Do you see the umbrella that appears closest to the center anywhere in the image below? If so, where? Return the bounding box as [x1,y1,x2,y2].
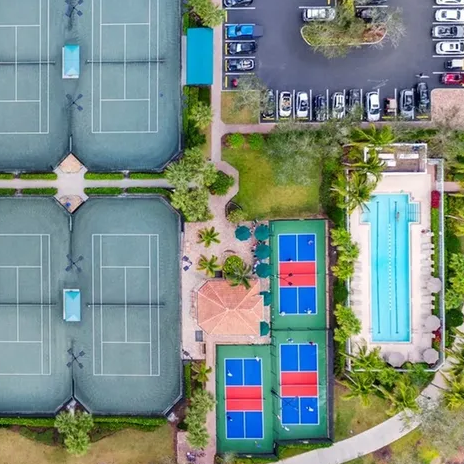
[235,225,251,241]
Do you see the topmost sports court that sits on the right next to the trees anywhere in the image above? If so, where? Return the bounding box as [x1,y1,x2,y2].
[270,221,327,330]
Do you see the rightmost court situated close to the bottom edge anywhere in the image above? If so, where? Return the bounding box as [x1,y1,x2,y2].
[270,330,329,443]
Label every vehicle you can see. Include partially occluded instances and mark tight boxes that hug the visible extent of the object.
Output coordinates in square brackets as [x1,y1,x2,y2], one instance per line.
[440,71,464,85]
[227,58,256,71]
[296,90,310,119]
[228,24,264,37]
[224,0,252,6]
[438,41,464,54]
[437,0,464,5]
[415,84,432,112]
[279,91,292,117]
[262,91,277,119]
[382,100,401,109]
[433,24,464,38]
[304,7,334,21]
[366,92,382,120]
[400,90,416,119]
[445,59,464,68]
[436,8,464,22]
[314,92,329,120]
[347,89,363,117]
[227,41,257,54]
[331,91,347,119]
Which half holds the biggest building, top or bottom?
bottom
